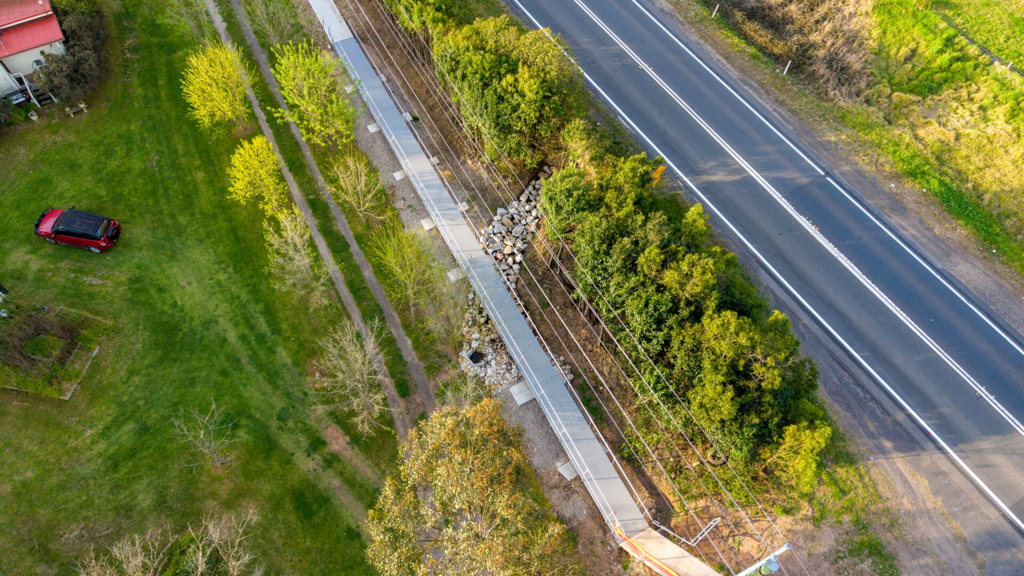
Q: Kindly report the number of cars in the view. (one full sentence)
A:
The photo contains exactly 1 car.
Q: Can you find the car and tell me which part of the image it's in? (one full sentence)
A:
Look in the left portion of the view to spot the car.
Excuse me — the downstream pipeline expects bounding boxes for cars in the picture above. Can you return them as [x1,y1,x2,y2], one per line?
[27,206,123,255]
